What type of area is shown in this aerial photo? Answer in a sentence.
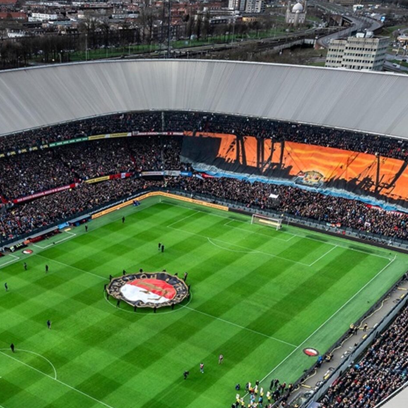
This image shows a sports ground.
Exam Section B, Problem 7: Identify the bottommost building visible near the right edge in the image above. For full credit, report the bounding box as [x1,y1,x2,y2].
[325,27,391,72]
